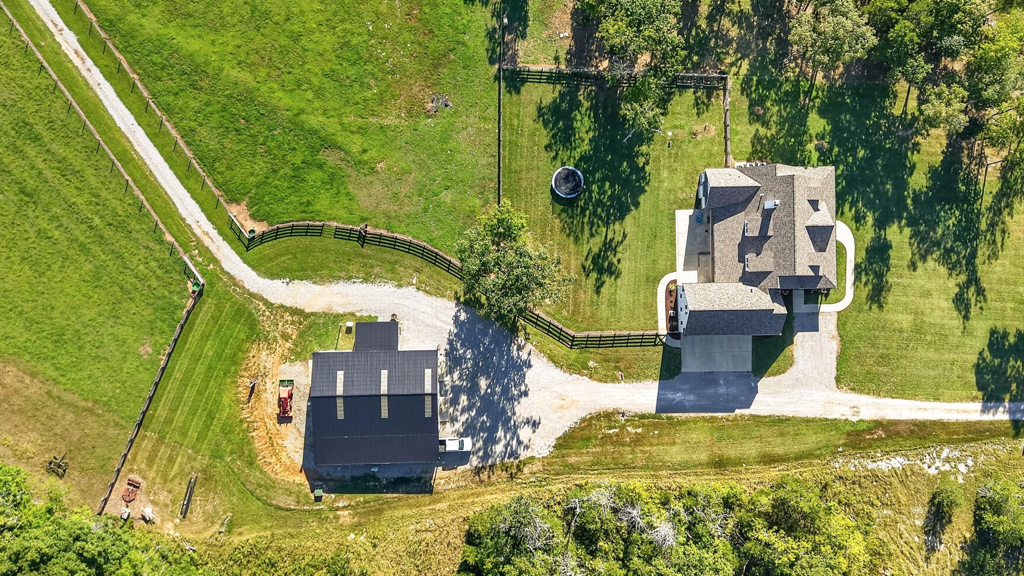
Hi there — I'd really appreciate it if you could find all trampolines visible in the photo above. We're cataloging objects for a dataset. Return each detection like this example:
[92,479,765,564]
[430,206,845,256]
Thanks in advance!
[551,166,584,199]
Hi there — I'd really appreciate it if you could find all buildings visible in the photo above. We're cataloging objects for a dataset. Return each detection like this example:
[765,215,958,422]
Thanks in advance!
[310,323,440,465]
[677,164,836,335]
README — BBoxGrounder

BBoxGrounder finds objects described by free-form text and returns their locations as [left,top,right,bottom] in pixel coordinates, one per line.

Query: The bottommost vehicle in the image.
[439,437,472,454]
